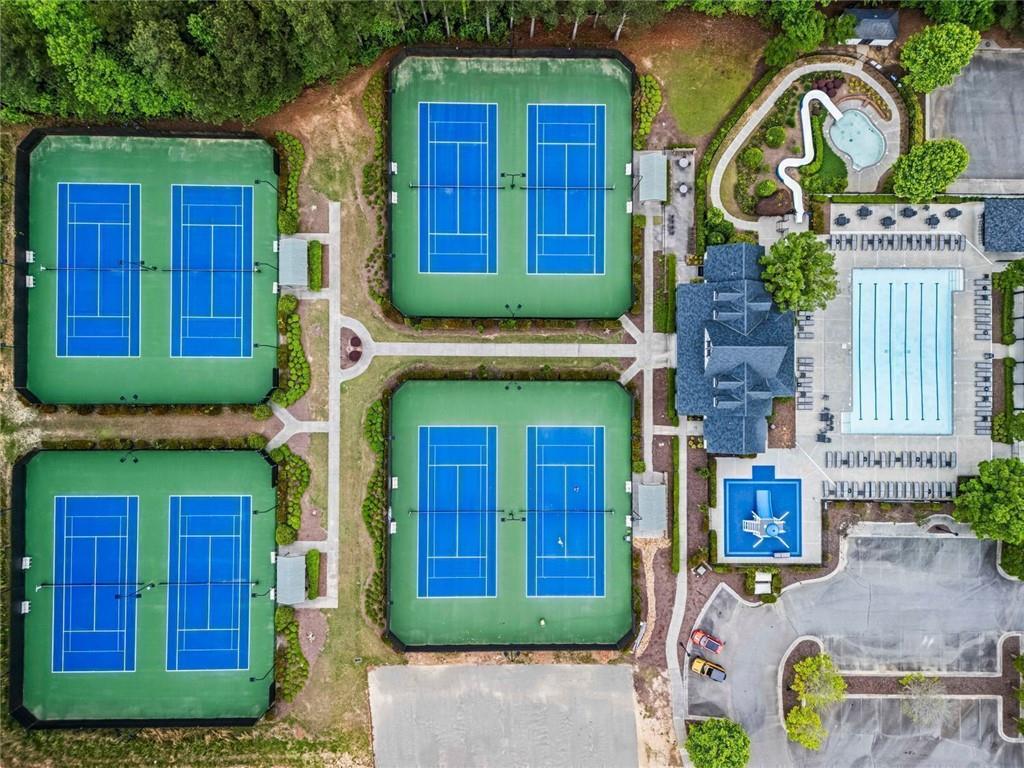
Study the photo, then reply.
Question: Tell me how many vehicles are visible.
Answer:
2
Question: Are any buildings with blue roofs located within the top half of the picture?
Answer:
Yes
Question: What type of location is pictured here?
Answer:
sports ground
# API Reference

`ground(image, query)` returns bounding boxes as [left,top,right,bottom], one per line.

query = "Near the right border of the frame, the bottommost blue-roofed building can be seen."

[973,197,1024,251]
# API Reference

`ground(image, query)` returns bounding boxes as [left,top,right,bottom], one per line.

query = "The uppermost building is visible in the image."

[832,0,899,47]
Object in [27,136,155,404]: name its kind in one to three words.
tennis court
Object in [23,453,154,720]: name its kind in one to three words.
tennis court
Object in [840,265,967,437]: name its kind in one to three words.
swimming pool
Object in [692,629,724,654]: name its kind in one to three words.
car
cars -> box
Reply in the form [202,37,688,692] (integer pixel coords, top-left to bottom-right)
[692,657,727,685]
[692,629,724,654]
